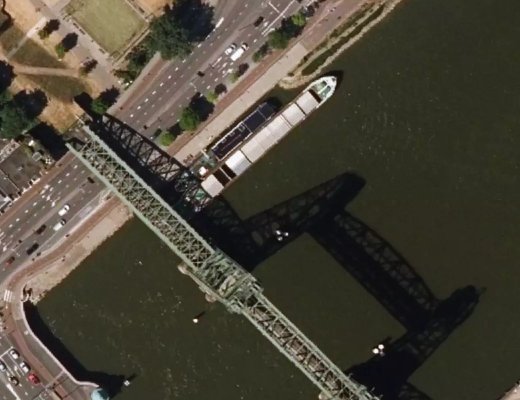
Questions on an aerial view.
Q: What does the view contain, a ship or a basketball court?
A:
ship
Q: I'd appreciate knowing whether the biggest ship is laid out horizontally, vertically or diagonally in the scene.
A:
diagonally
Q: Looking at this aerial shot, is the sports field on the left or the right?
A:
left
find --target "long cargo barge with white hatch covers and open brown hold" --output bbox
[183,76,338,211]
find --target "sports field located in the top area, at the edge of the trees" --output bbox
[67,0,150,58]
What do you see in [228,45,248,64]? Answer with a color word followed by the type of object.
white vehicle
